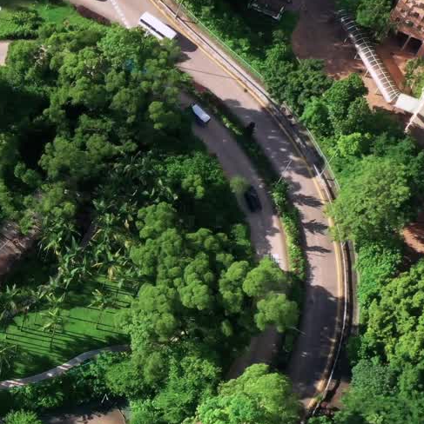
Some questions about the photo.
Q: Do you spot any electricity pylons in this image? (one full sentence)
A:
No, I find no electricity pylon anywhere in the image.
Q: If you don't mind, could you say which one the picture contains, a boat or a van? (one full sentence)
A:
Visible in the photo is a van.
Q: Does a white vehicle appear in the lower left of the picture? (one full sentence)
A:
No, I see no white vehicle in the lower left of the picture.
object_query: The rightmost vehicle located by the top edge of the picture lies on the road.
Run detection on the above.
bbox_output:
[133,13,180,49]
